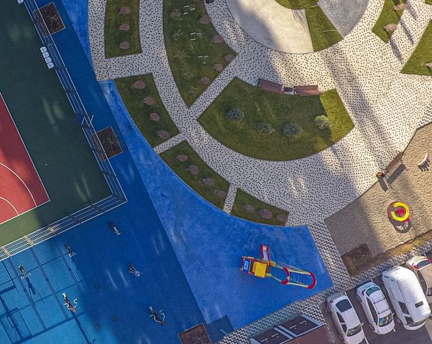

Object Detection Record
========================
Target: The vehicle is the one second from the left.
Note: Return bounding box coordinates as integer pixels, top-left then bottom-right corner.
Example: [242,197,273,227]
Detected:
[325,292,368,344]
